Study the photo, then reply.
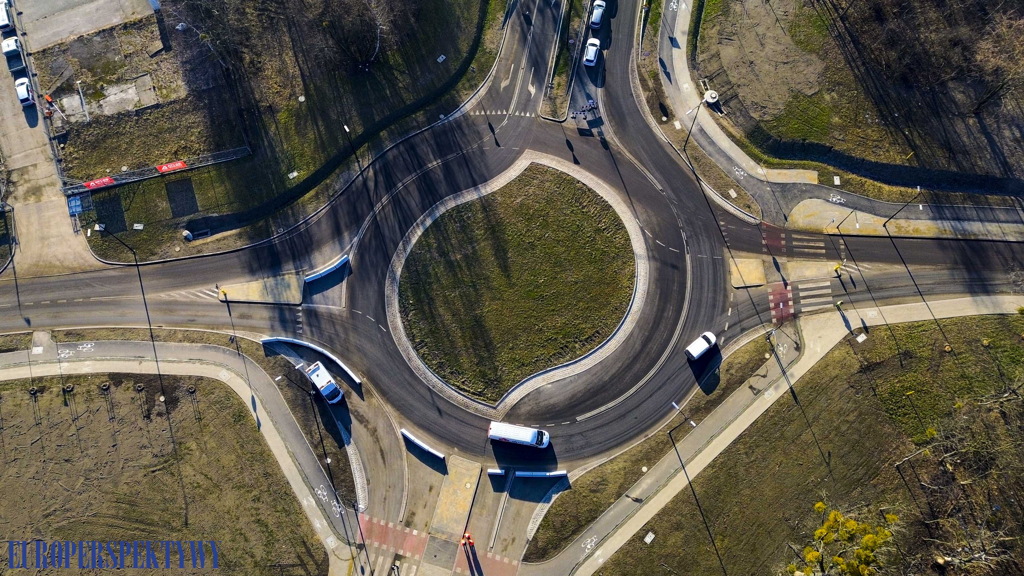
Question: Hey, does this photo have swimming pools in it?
No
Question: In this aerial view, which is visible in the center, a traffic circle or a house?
traffic circle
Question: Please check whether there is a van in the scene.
Yes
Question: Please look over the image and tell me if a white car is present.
Yes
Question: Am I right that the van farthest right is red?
No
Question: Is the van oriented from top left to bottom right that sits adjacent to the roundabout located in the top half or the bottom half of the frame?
bottom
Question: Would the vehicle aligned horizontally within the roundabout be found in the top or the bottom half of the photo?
bottom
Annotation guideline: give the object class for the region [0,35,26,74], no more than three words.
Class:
truck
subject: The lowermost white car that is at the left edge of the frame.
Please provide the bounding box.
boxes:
[14,79,36,108]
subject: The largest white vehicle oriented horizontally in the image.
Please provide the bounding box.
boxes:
[488,421,549,448]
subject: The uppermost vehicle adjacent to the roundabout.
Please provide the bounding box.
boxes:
[589,2,607,31]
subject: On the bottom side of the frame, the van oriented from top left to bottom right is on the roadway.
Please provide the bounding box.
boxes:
[304,359,345,409]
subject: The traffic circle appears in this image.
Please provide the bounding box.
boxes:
[327,35,713,549]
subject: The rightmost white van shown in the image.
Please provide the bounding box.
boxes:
[682,330,718,363]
